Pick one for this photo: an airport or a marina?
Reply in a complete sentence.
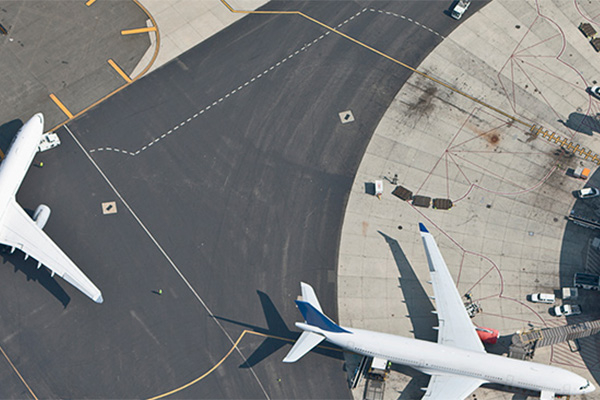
This looks like an airport.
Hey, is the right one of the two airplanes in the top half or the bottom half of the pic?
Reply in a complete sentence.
The right one of the two airplanes is in the bottom half of the image.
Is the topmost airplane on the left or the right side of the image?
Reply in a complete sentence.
The topmost airplane is on the left side of the image.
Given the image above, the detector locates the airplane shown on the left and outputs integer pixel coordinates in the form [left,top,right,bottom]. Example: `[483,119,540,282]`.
[0,114,103,303]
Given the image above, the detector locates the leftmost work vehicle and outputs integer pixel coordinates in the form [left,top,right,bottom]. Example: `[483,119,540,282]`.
[39,134,64,153]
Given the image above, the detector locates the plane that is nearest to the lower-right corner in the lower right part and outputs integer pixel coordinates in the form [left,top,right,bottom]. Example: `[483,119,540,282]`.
[284,221,595,400]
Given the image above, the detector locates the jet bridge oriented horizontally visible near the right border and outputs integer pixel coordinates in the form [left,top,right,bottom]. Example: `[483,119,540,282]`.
[506,319,600,361]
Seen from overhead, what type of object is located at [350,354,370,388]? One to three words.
work vehicle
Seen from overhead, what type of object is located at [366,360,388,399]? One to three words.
work vehicle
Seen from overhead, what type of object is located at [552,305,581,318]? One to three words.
vehicle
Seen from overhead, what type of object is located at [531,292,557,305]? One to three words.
vehicle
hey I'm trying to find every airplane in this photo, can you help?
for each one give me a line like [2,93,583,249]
[0,114,103,303]
[284,221,595,400]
